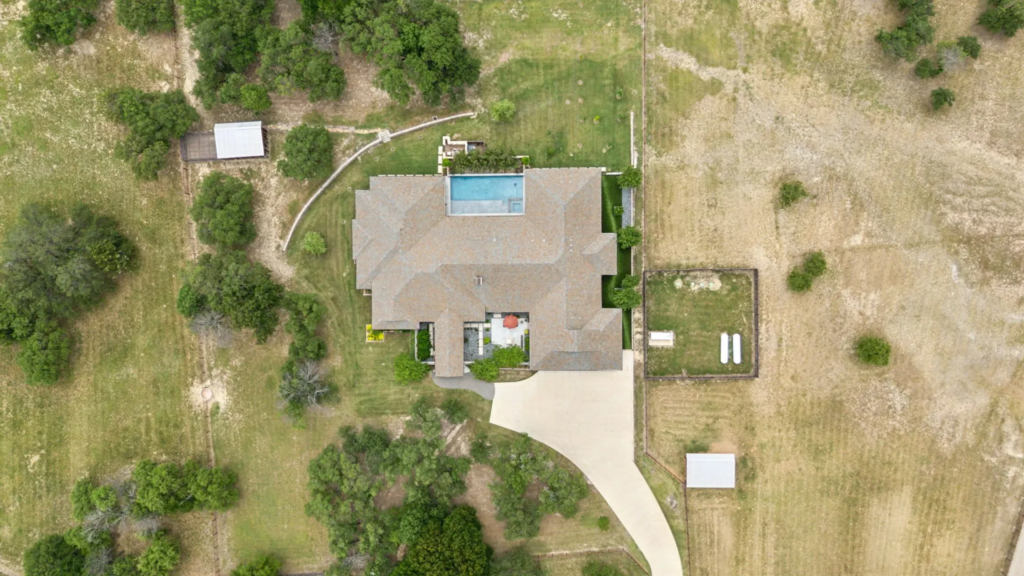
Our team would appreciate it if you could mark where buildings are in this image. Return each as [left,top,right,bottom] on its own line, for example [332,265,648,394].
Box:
[351,168,623,377]
[684,451,738,490]
[211,121,269,161]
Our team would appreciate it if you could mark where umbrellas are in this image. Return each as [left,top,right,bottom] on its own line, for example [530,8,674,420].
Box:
[504,315,517,329]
